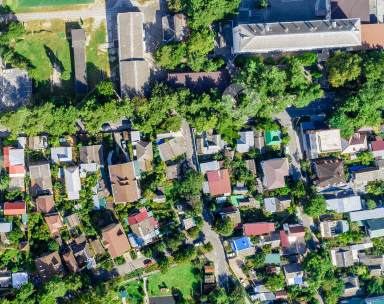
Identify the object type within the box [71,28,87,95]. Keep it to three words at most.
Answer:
shed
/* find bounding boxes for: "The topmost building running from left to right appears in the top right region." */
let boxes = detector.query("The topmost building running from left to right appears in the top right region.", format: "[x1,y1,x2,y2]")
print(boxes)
[227,18,363,55]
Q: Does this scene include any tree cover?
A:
Yes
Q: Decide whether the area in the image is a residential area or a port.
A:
residential area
